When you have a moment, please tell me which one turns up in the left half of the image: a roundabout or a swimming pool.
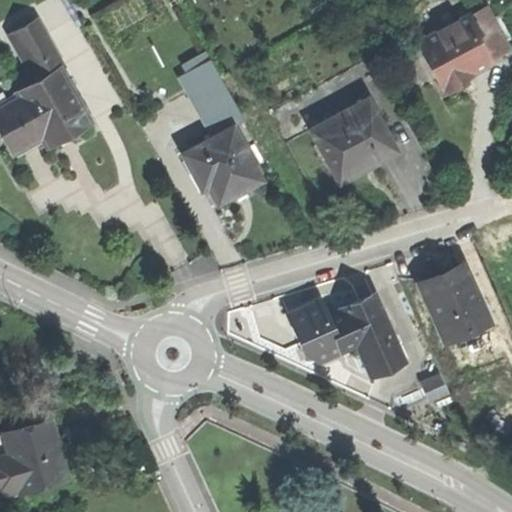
roundabout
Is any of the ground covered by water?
No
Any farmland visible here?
No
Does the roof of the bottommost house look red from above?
No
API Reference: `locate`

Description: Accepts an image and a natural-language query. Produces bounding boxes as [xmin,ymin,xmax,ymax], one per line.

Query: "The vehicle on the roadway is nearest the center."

[316,270,336,282]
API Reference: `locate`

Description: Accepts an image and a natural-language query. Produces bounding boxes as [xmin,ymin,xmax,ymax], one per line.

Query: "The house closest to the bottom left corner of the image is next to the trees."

[0,422,72,503]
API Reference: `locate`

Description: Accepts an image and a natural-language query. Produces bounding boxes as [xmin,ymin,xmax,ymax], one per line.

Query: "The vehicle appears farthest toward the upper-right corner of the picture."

[488,66,502,88]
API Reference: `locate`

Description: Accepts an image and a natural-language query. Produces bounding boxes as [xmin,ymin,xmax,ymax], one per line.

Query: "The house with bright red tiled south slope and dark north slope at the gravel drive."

[422,6,511,96]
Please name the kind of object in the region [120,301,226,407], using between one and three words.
roundabout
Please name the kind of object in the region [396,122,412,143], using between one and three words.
car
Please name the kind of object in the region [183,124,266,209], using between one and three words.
house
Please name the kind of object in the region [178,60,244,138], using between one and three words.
building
